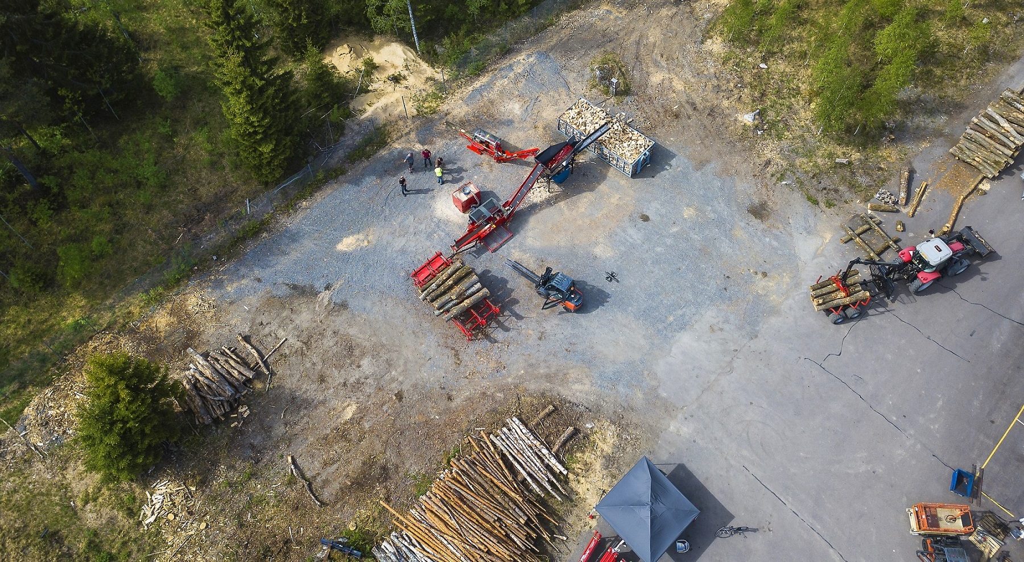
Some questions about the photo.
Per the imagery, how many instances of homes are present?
none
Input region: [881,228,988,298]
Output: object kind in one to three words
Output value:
work vehicle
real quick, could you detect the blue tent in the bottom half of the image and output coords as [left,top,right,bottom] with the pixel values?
[591,456,700,562]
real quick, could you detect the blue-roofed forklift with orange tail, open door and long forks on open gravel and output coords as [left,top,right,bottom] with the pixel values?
[506,263,585,313]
